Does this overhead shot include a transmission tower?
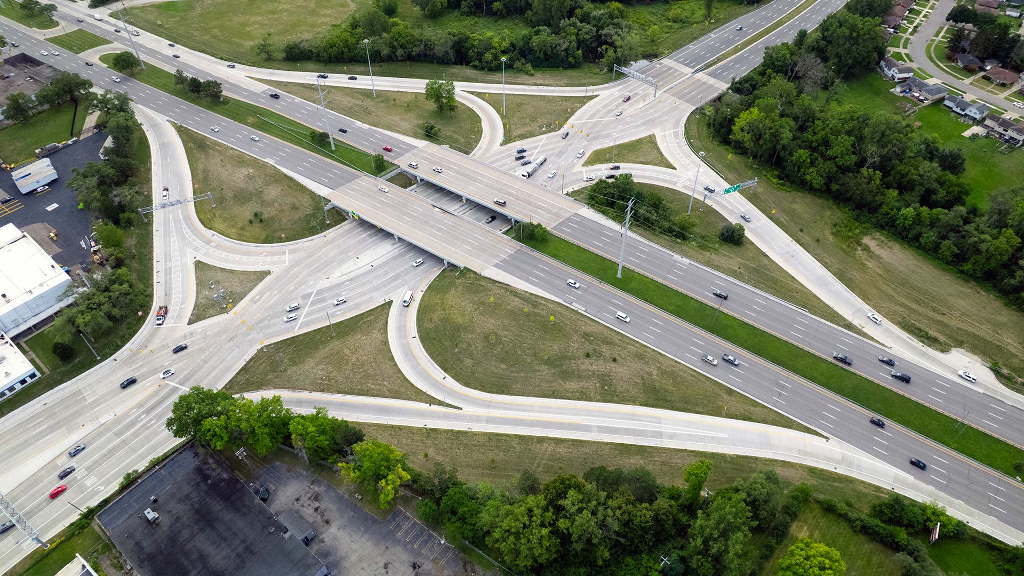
Yes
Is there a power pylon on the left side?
Yes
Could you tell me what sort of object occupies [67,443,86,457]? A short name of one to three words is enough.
car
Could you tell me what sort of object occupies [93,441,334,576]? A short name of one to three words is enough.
warehouse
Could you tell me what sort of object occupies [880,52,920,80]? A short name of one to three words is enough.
house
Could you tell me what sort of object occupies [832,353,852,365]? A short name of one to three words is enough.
vehicle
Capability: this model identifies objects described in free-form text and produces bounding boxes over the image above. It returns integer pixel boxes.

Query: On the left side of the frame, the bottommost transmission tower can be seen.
[311,66,333,142]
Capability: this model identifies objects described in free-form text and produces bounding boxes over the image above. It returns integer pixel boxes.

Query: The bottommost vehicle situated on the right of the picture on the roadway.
[908,457,927,470]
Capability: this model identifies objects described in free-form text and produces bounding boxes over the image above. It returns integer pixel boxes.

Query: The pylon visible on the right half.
[618,183,637,269]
